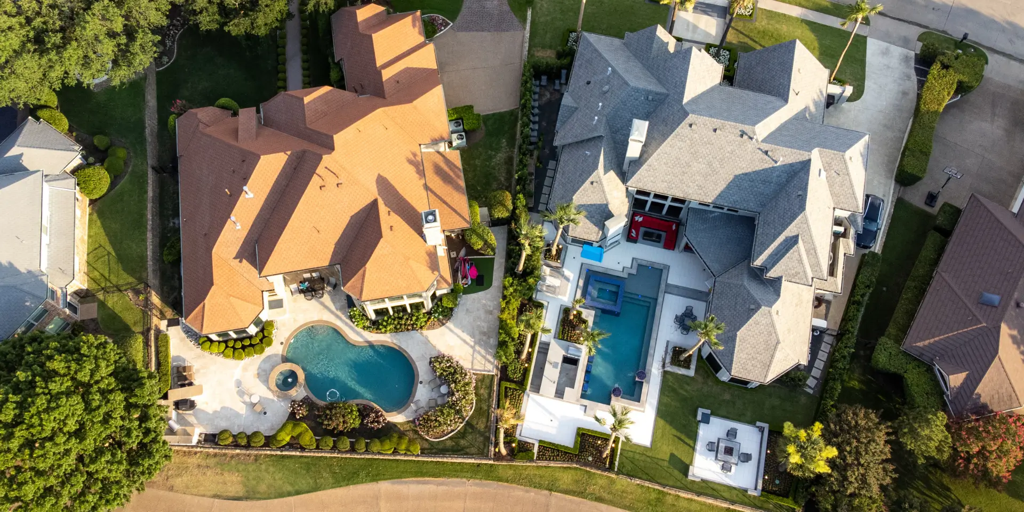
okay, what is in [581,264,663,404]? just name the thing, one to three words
swimming pool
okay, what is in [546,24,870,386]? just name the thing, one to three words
house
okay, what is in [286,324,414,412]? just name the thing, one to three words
swimming pool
